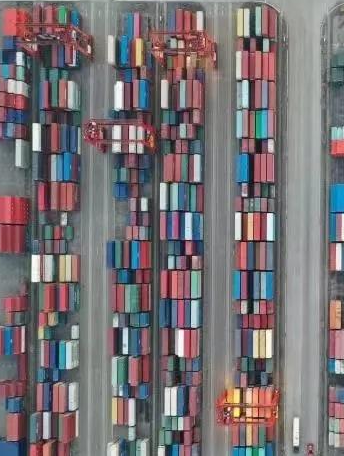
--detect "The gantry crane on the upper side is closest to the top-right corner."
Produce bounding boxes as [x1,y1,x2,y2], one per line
[148,30,219,71]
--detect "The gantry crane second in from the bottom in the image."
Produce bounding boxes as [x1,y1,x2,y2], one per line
[85,119,158,155]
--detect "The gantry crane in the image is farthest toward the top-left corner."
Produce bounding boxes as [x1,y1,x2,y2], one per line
[16,21,95,62]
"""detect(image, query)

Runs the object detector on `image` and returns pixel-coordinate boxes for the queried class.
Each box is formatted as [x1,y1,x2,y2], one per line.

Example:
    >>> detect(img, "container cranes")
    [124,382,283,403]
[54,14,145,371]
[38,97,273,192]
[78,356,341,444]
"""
[16,21,95,62]
[148,30,219,71]
[215,389,280,426]
[85,119,158,155]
